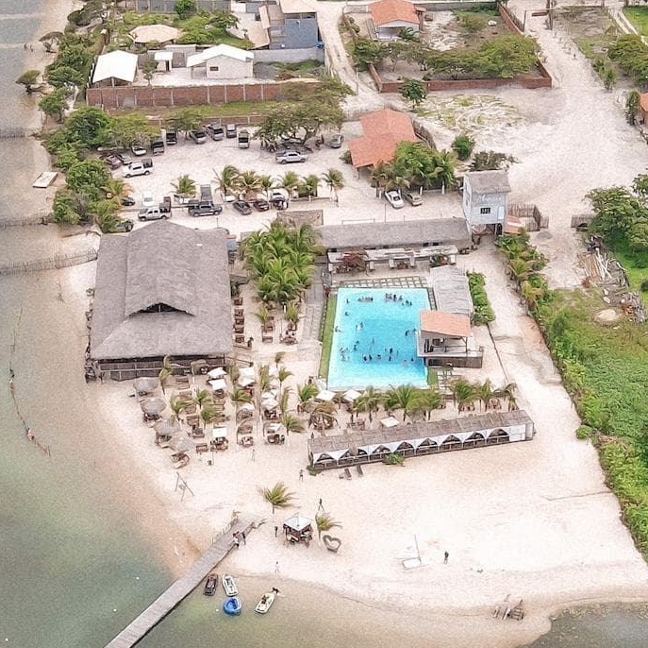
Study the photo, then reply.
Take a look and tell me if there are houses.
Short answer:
Yes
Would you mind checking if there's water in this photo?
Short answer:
Yes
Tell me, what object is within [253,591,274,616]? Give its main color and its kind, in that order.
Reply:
white boat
